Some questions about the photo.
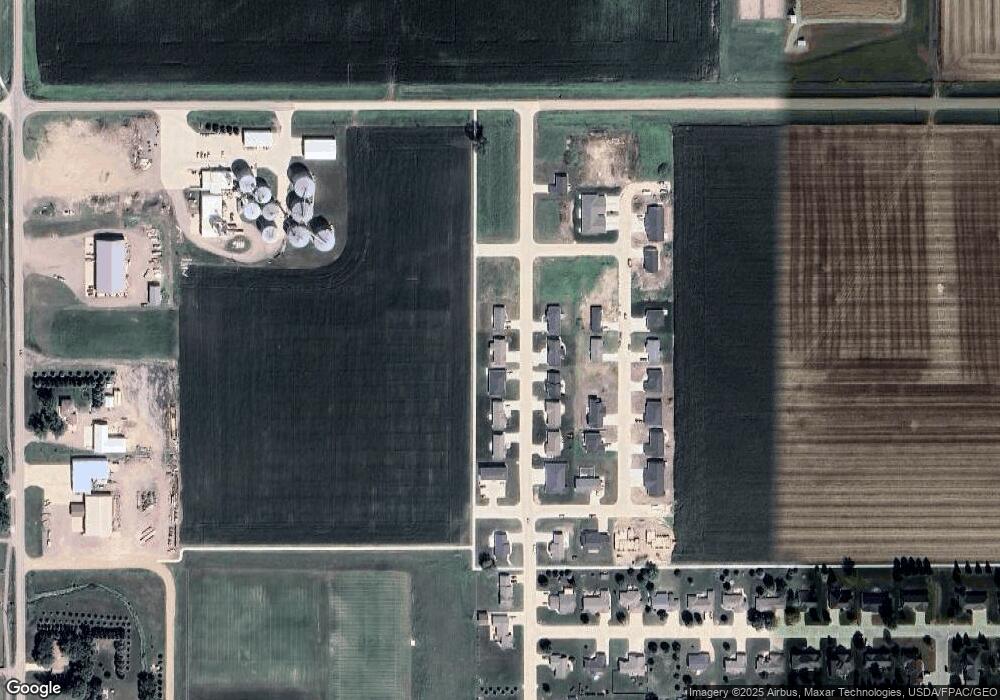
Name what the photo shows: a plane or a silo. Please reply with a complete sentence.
Visible in the photo is a silo.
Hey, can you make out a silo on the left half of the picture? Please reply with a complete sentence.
Yes, the scene does show a silo on the left half of the picture.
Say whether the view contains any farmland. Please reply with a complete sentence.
Yes, farmland shows up in the scene.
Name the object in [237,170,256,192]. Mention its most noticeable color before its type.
white silo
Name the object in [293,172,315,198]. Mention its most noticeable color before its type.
white silo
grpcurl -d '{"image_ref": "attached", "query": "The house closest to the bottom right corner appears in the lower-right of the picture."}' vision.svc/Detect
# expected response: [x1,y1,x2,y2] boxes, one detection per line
[965,663,979,685]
